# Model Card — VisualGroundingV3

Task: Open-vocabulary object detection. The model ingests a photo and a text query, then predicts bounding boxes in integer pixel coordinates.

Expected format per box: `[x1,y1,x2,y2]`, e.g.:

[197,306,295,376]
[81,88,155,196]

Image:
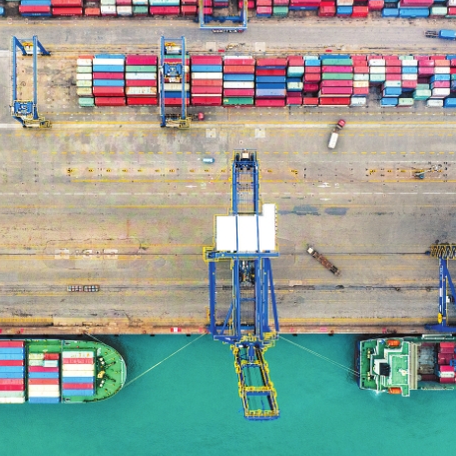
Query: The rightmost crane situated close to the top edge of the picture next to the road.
[196,0,248,30]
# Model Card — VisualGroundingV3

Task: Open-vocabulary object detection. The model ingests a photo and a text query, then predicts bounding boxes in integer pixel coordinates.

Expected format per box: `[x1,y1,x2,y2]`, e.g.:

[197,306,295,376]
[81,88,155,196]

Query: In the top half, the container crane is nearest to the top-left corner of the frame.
[9,36,55,127]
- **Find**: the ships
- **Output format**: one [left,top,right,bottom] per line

[358,335,456,396]
[0,337,125,403]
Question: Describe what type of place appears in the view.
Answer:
port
